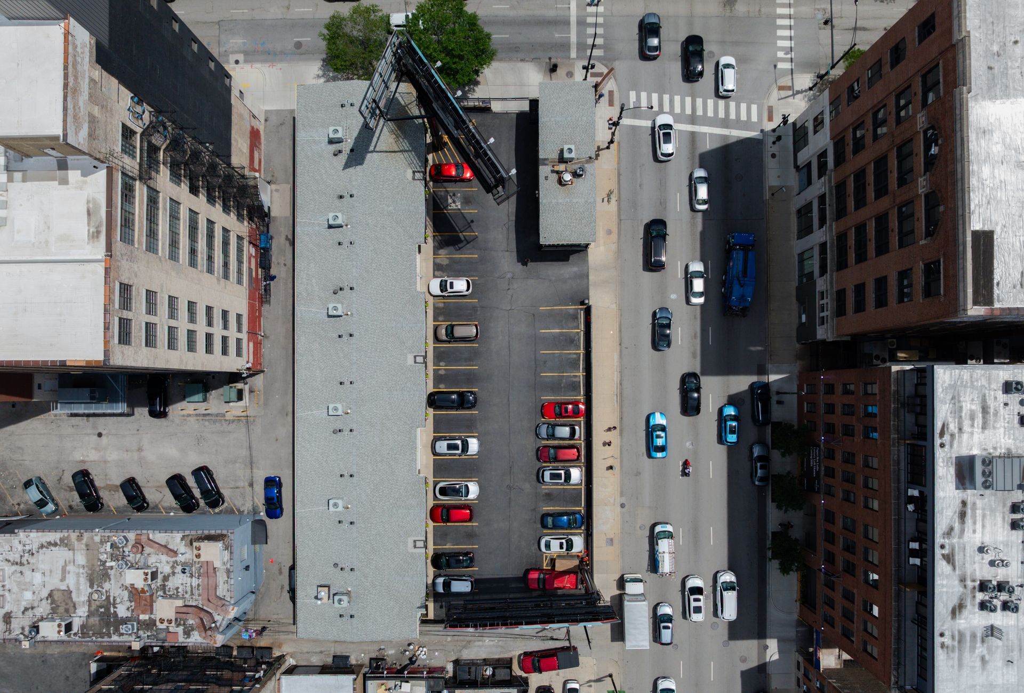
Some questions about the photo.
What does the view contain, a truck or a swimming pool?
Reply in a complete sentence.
The image shows a truck.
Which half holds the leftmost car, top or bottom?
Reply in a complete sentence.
It is in the bottom half that the leftmost car appears.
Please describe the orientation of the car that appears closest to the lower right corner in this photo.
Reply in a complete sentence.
The car that appears closest to the lower right corner has been laid out from top to bottom relative to the frame.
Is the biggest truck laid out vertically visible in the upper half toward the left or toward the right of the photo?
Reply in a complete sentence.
It is on the right.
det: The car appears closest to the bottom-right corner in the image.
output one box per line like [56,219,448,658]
[715,571,739,620]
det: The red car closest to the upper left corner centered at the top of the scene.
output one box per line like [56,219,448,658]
[429,162,473,184]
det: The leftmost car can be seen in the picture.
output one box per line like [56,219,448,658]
[24,474,60,514]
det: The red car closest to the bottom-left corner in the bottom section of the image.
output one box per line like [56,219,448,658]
[430,504,474,525]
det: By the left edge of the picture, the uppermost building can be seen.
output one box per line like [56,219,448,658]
[0,0,263,401]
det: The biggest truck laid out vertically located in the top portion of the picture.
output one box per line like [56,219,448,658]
[725,227,759,316]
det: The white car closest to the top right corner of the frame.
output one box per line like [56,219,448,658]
[715,57,737,99]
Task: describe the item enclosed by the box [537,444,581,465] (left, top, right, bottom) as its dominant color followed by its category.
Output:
red car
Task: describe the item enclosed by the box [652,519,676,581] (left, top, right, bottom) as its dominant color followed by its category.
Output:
white vehicle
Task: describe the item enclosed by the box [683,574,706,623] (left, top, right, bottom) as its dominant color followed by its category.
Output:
white car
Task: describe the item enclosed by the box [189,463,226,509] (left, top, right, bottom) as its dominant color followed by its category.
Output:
black car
